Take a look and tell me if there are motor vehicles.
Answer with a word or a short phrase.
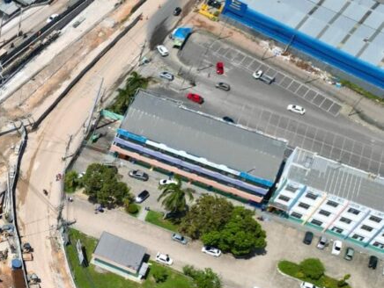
Yes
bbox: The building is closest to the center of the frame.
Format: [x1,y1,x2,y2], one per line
[111,89,292,204]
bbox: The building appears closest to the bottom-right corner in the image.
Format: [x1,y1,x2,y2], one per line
[265,145,384,257]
